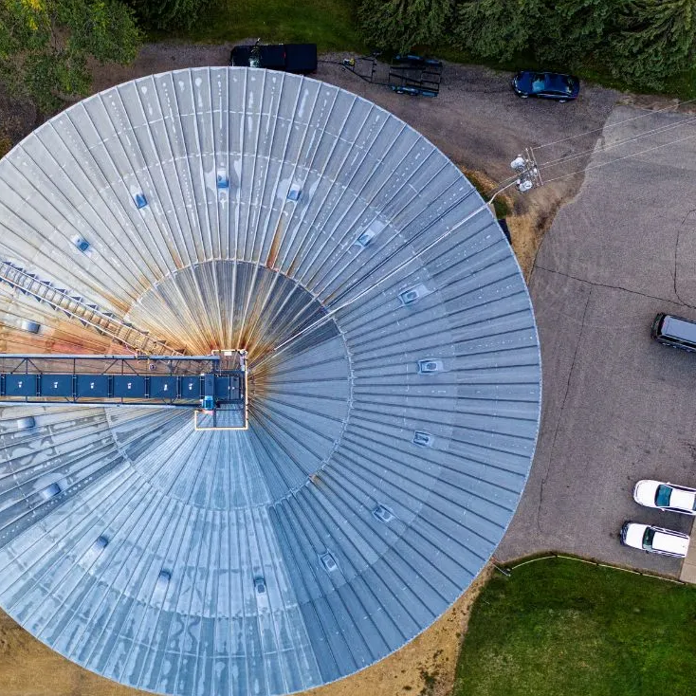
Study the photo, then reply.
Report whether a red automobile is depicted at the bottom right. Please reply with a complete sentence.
No, no red automobile appears at the bottom right.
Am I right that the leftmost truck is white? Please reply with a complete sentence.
No, from above the leftmost truck looks black.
